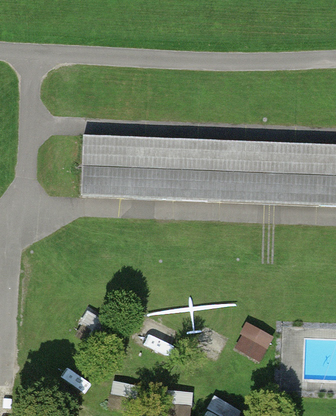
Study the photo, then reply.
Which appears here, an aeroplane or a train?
aeroplane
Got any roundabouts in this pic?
No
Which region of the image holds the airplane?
bottom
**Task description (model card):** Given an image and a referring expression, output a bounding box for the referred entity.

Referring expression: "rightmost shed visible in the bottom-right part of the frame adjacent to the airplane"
[232,322,273,362]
